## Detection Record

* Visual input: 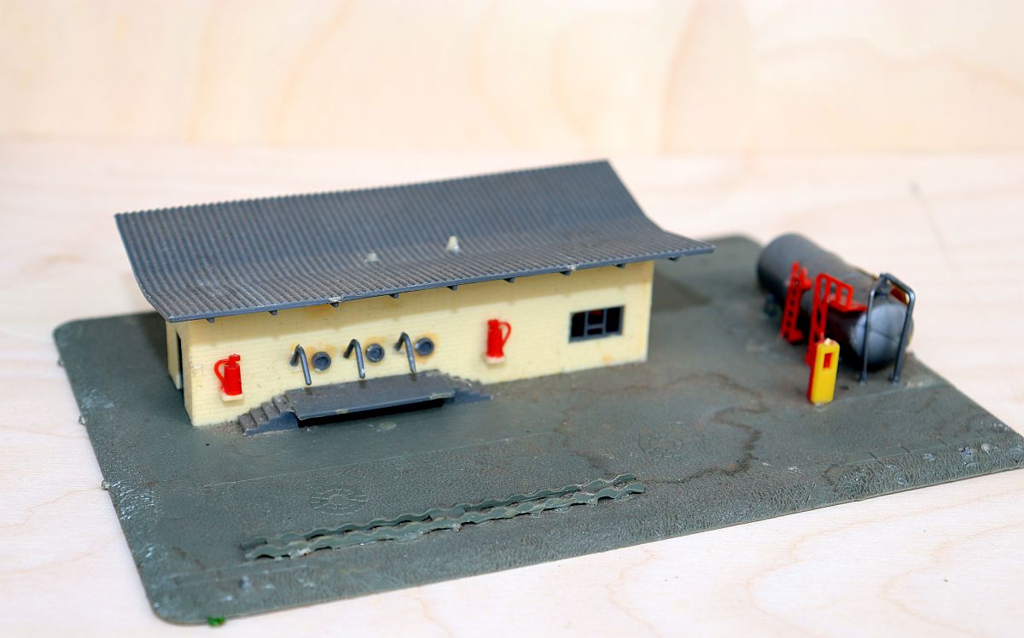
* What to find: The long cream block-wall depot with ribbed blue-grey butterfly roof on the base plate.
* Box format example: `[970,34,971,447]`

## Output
[115,159,714,426]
